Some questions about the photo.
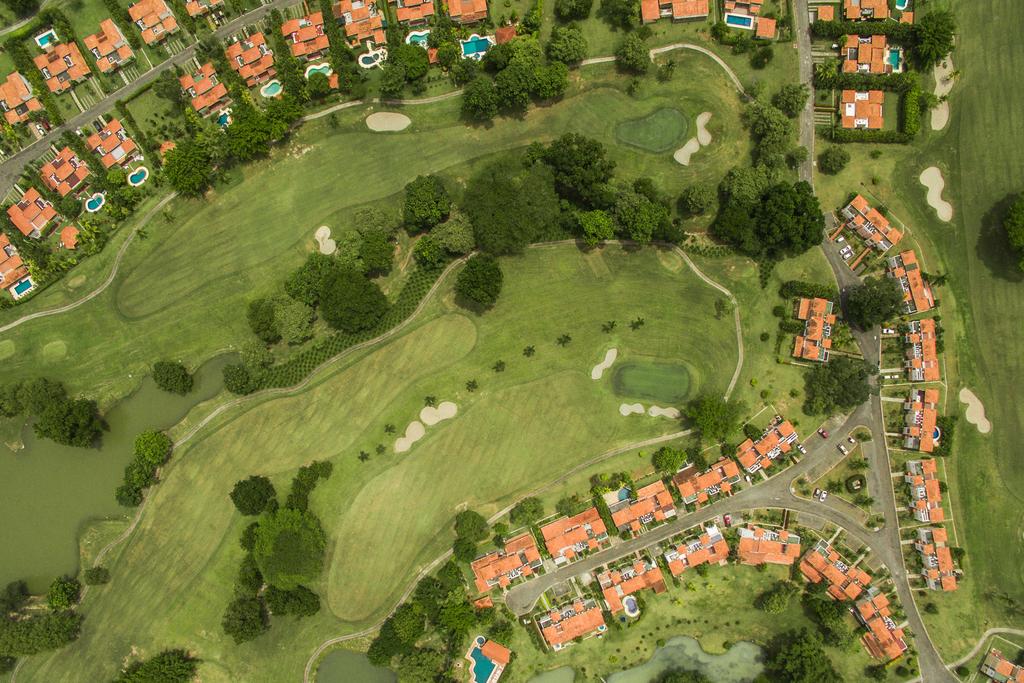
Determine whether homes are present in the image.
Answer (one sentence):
Yes, looking at the shot, I can spot a home.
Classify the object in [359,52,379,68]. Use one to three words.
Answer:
swimming pool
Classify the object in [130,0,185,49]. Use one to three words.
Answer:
house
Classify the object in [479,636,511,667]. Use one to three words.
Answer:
shed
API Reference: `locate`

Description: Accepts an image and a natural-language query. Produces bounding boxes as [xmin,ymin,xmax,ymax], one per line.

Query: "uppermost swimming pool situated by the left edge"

[35,29,58,48]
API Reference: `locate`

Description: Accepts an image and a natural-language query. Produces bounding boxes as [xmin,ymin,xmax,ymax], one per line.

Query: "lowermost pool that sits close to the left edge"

[12,276,38,298]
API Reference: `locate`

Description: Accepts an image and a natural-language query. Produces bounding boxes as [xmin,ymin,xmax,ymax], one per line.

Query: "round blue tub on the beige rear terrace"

[602,486,632,502]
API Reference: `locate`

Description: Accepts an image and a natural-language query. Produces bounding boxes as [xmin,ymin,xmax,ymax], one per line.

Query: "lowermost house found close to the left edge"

[0,239,34,291]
